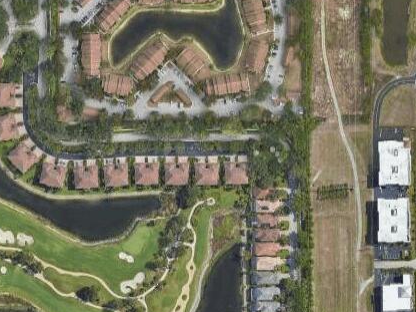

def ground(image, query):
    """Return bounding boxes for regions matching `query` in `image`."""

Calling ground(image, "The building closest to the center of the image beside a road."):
[196,159,220,186]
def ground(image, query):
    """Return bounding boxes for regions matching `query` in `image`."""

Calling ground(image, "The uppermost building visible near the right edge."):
[378,138,412,185]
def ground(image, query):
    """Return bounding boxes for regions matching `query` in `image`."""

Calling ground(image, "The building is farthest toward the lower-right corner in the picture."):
[383,274,411,312]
